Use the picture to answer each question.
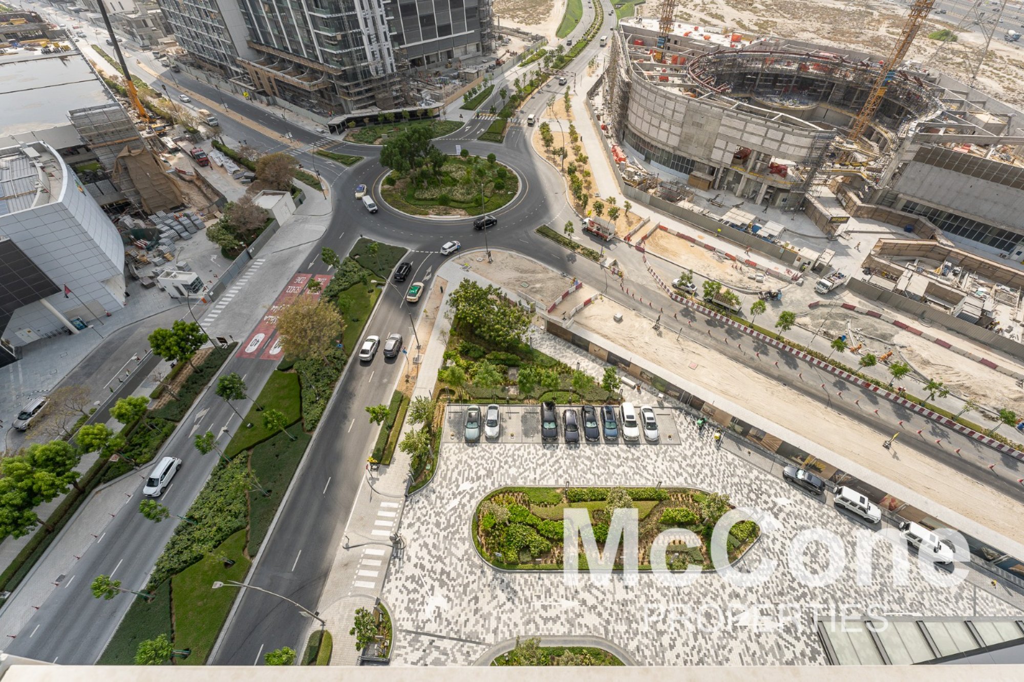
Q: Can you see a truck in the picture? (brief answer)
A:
Yes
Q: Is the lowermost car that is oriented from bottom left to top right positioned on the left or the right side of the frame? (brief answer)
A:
left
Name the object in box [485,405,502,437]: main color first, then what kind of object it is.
white car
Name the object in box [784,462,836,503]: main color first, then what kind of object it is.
gray car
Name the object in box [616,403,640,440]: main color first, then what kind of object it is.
white car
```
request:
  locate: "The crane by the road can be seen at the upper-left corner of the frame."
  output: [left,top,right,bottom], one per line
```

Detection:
[89,0,172,135]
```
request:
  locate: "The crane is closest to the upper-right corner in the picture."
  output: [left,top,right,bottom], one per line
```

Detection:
[836,0,941,135]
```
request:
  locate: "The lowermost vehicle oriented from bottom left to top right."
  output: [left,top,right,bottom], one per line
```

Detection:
[141,457,185,500]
